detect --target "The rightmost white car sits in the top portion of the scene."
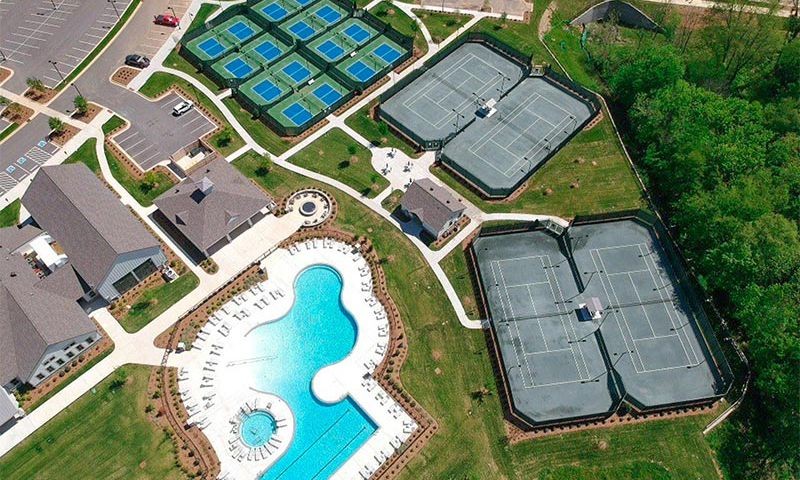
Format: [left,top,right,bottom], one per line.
[170,99,194,114]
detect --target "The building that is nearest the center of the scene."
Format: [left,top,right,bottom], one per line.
[399,178,466,238]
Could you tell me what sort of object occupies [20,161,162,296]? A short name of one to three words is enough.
building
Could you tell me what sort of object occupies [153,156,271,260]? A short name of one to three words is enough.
building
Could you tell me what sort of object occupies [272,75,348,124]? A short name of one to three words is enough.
sports court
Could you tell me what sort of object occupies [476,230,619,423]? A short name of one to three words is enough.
tennis court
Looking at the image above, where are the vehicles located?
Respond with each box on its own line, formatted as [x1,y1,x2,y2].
[170,99,194,114]
[125,55,148,66]
[153,13,178,24]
